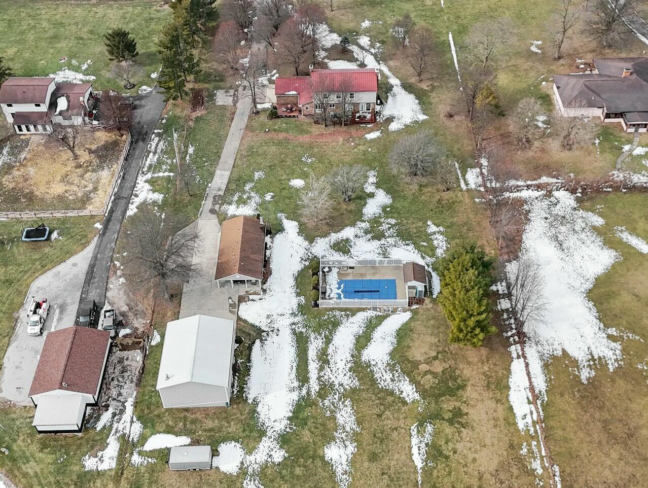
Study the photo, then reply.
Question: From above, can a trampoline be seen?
Yes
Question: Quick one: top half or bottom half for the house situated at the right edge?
top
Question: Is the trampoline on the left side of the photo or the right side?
left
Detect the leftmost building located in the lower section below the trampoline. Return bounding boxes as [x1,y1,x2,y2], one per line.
[27,325,115,437]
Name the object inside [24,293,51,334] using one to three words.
truck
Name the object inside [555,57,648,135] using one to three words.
house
